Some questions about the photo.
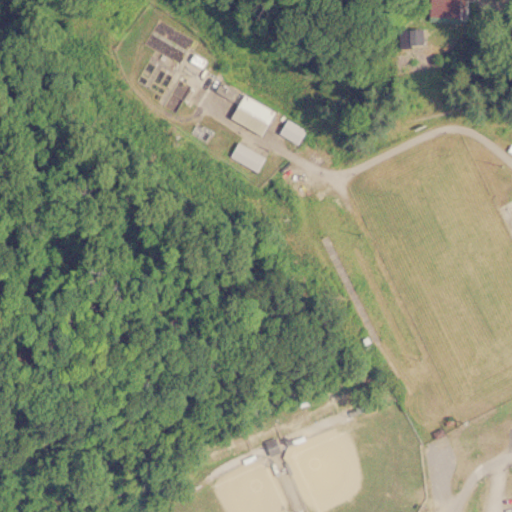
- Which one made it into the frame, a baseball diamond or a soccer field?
baseball diamond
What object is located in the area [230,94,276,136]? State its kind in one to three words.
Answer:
building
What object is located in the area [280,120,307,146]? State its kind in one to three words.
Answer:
building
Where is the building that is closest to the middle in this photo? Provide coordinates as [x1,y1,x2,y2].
[231,142,267,174]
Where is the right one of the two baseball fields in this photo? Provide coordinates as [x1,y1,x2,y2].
[268,401,424,512]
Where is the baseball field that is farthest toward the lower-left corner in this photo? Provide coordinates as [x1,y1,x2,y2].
[214,462,290,512]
